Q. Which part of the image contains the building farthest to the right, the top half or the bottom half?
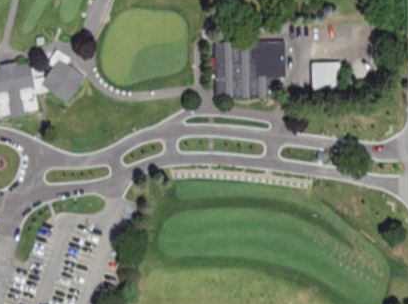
top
